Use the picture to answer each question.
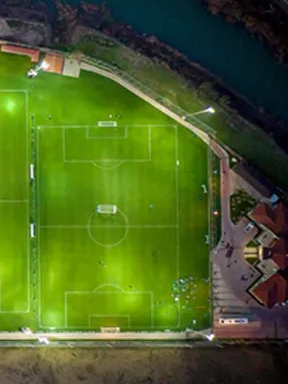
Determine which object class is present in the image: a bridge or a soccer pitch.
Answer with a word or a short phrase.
soccer pitch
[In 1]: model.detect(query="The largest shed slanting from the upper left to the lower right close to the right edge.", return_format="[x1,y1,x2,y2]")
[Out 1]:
[229,161,278,200]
